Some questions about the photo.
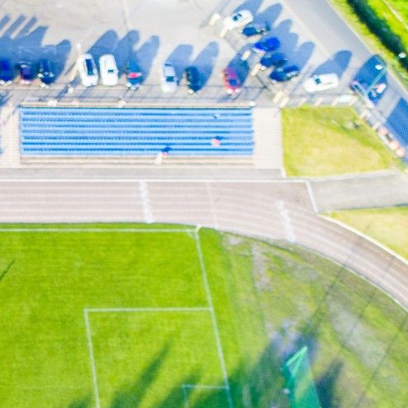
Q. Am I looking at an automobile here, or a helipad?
automobile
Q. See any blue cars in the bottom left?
No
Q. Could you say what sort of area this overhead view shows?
sports ground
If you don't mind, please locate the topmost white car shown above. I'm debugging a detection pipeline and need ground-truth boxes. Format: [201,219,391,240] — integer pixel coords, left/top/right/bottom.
[223,8,252,29]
